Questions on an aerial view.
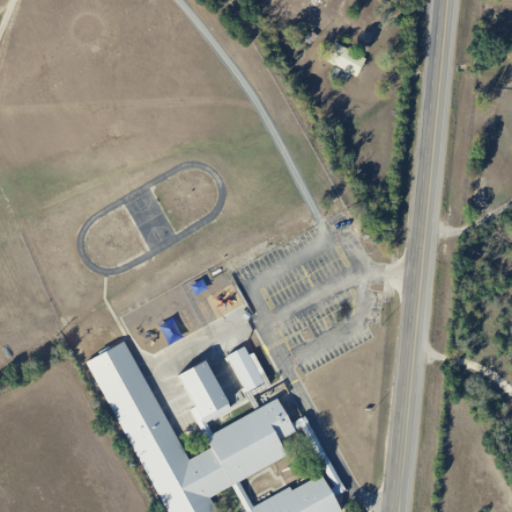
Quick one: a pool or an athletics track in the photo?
athletics track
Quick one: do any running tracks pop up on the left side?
Yes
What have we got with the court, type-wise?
basketball court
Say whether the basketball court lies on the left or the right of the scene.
left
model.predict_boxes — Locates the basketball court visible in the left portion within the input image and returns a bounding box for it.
[126,189,176,250]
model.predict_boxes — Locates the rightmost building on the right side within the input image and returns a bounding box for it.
[329,44,366,76]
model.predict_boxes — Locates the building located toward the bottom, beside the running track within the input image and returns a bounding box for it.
[87,342,342,512]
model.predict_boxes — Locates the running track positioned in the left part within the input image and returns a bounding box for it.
[78,162,226,274]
